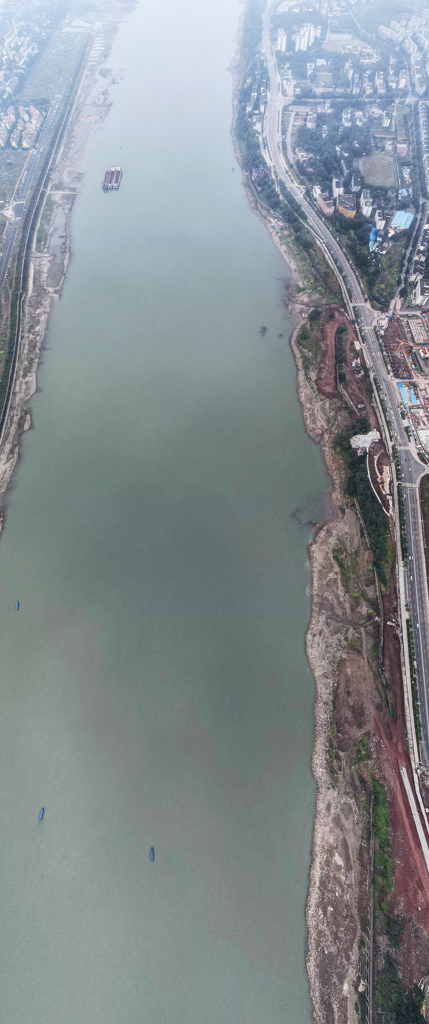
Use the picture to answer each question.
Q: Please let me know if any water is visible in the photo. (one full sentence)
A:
Yes, the picture does contain water.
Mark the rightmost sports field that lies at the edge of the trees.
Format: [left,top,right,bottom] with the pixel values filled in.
[360,155,397,185]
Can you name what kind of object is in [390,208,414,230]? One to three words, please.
building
